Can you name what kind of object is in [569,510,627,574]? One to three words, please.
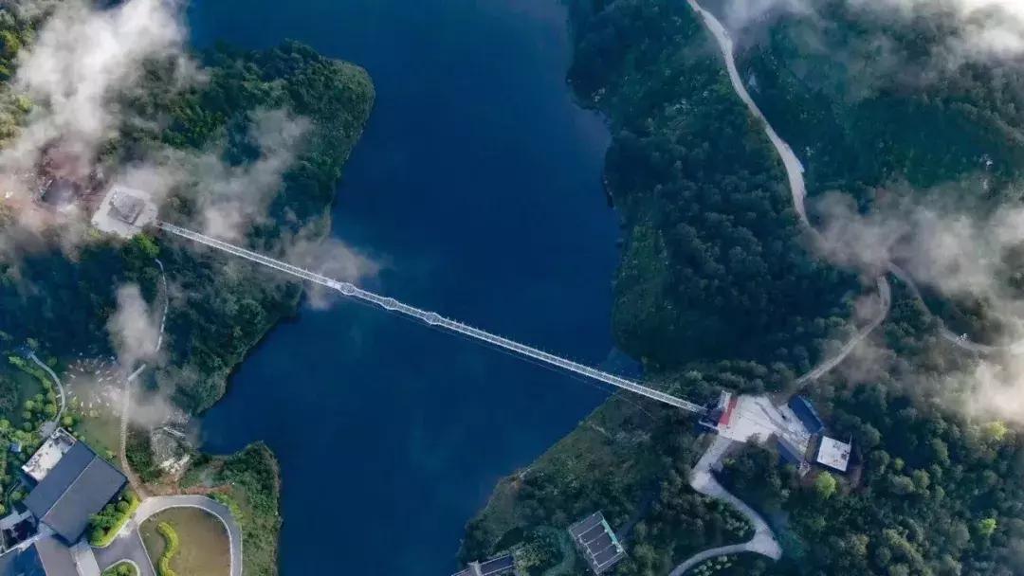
building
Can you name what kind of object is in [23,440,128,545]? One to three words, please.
building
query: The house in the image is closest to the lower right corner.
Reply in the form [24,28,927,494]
[816,433,852,472]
